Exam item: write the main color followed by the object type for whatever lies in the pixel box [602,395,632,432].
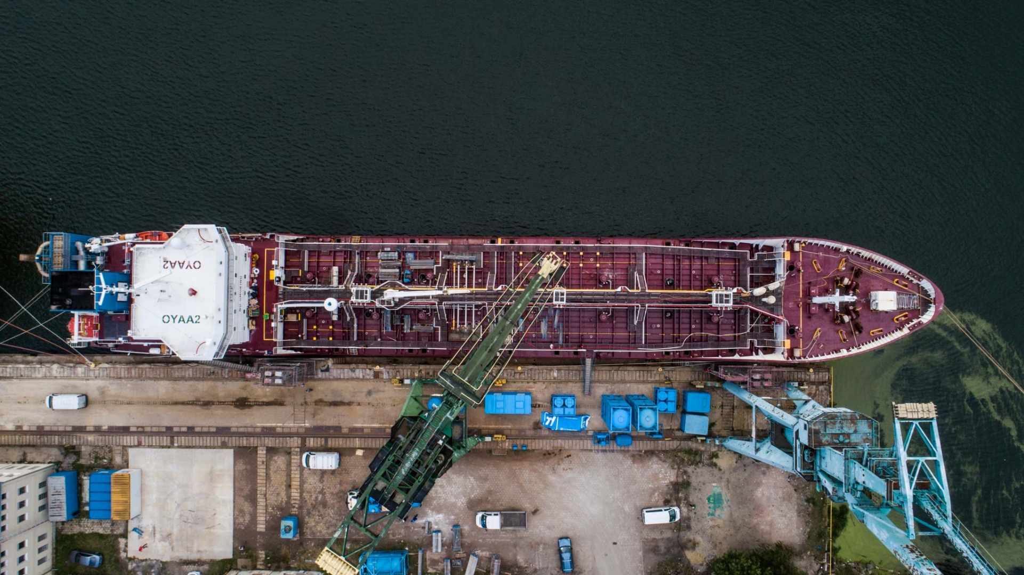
blue storage tank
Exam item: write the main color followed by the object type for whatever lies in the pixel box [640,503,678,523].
white vehicle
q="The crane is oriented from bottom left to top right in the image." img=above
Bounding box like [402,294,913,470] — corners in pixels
[314,250,570,575]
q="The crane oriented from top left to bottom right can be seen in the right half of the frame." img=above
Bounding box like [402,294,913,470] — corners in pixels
[689,379,1014,575]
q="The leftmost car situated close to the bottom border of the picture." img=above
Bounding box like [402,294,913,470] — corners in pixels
[71,547,106,566]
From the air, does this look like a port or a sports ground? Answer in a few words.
port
